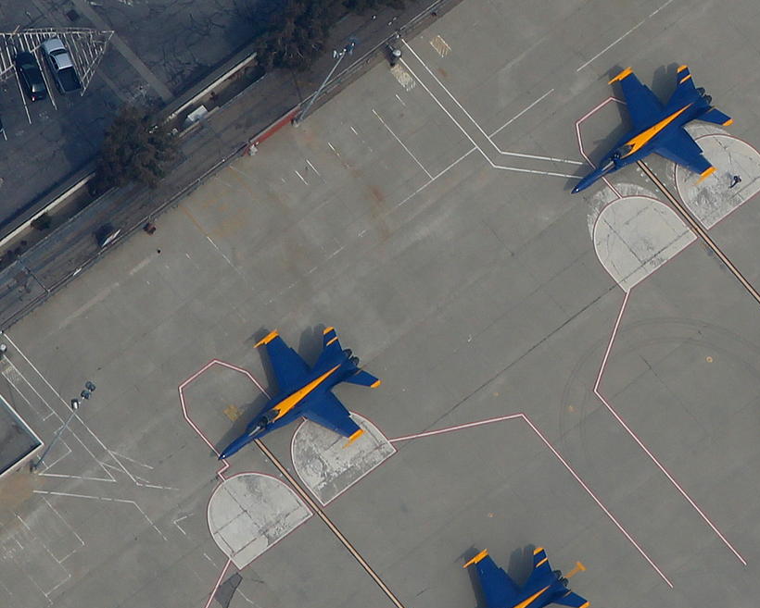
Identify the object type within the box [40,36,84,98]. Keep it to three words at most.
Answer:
truck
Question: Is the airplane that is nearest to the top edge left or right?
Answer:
right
